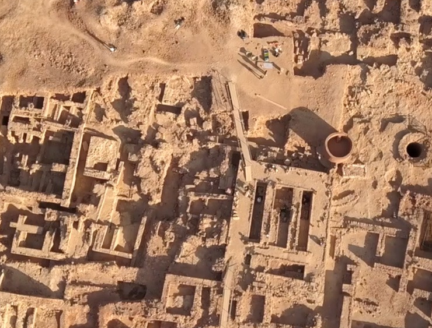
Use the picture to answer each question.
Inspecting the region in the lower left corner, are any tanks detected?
No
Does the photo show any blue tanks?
No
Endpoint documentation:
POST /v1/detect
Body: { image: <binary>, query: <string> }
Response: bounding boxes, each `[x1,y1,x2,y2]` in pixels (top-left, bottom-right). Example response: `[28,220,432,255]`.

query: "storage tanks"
[324,137,352,165]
